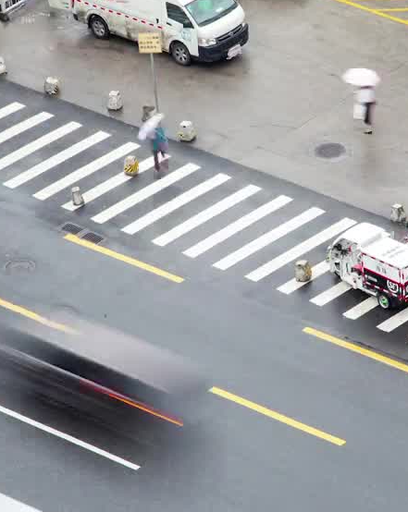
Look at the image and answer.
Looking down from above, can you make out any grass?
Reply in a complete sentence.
No, the picture contains no grass.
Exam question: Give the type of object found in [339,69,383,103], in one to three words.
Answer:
umbrella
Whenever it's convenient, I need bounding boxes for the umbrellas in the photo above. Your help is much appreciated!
[140,113,170,143]
[339,69,383,103]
